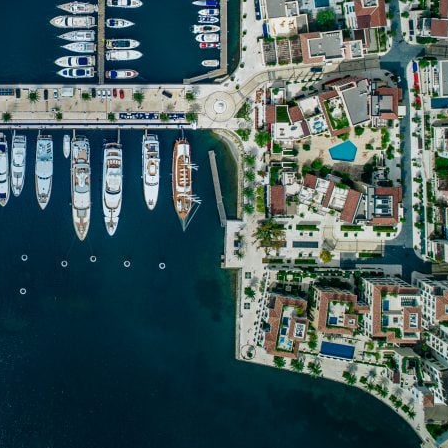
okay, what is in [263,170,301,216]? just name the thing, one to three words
house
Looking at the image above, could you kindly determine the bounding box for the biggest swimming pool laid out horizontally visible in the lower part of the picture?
[319,340,356,361]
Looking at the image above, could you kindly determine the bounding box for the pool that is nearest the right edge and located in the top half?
[430,97,448,110]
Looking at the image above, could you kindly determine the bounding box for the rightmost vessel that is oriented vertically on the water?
[173,131,200,232]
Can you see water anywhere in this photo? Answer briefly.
Yes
